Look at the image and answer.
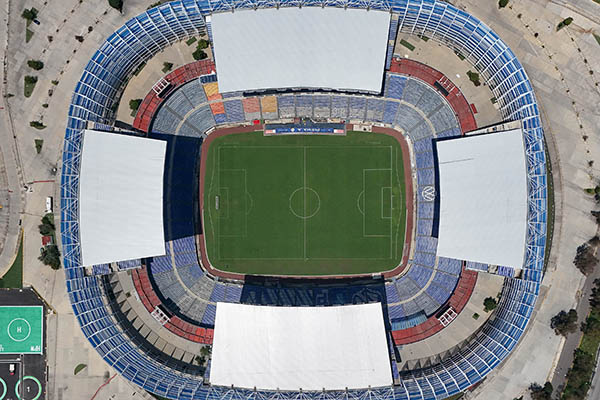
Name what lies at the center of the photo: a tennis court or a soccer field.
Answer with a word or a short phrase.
soccer field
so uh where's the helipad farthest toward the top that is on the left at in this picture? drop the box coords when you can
[0,306,43,354]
